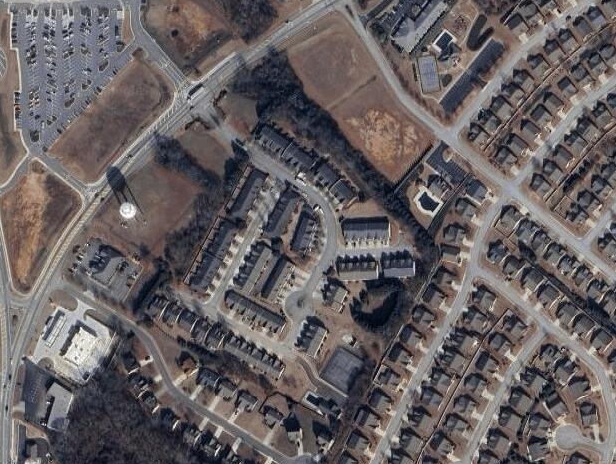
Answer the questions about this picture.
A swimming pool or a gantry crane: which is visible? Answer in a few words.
swimming pool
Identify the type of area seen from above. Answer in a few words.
residential area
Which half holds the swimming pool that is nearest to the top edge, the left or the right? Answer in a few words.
right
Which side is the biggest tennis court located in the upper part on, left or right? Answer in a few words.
right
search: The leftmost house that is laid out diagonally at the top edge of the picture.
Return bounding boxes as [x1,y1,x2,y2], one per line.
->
[385,0,449,55]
